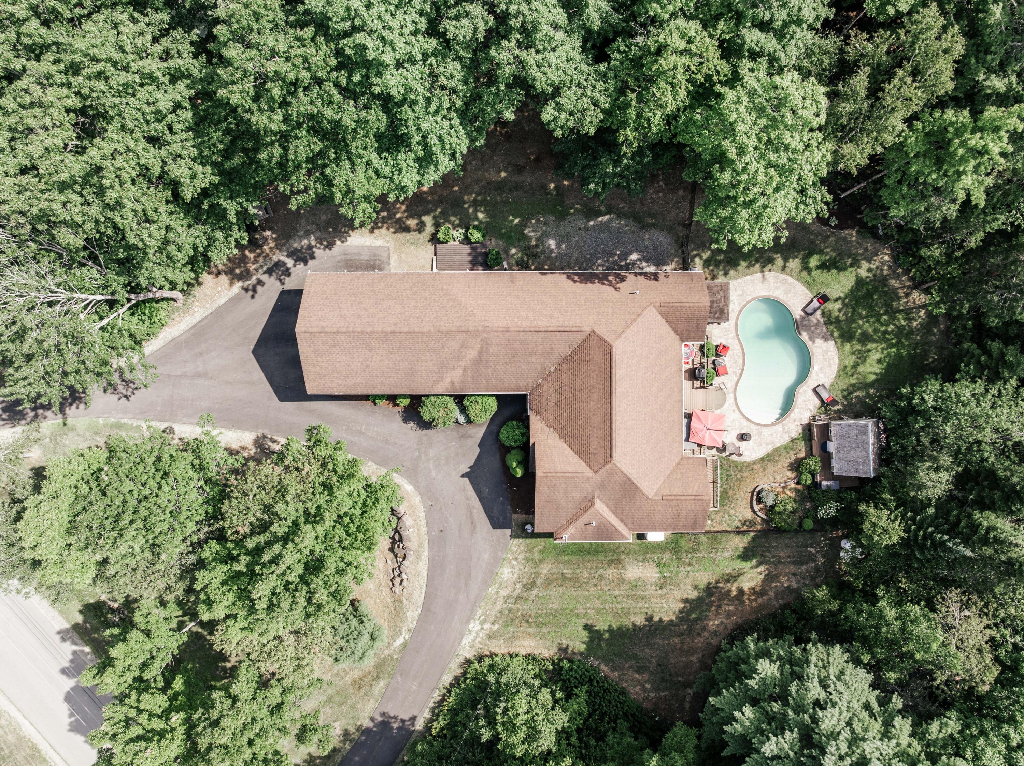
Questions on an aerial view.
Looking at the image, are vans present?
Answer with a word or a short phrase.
No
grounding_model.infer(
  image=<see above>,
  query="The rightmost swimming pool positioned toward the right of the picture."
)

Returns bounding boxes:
[732,294,818,428]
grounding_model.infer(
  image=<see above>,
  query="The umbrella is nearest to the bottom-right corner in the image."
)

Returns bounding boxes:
[689,409,729,447]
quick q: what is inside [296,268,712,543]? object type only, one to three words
house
